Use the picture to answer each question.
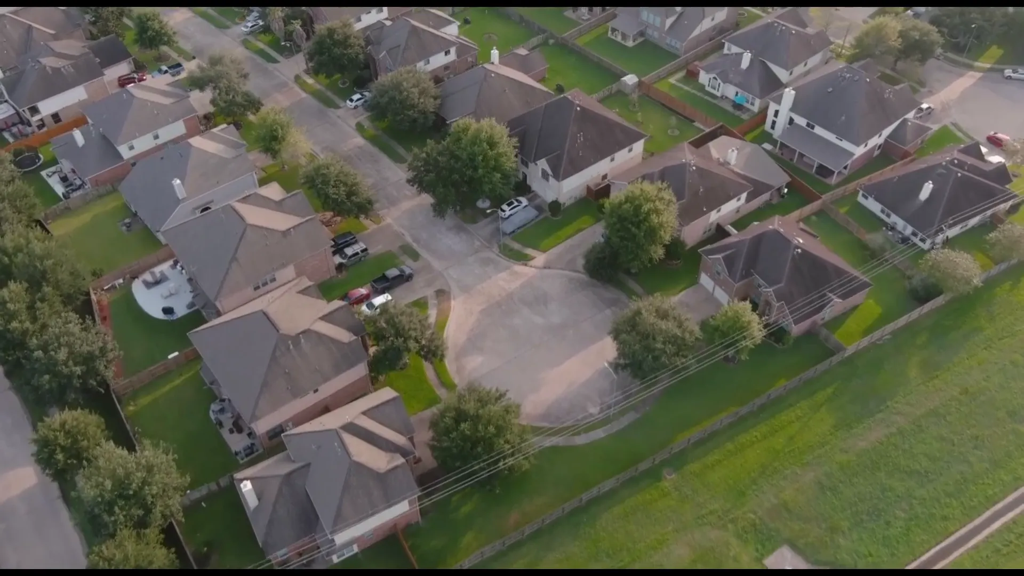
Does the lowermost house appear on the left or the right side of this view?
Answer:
left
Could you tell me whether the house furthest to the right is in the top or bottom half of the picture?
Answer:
top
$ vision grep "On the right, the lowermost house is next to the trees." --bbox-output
[696,212,875,342]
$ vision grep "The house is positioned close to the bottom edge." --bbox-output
[231,387,422,568]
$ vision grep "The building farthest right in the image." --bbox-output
[856,137,1020,254]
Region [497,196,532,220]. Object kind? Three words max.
car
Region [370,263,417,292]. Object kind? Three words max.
truck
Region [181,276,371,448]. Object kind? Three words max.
house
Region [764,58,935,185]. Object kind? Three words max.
house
